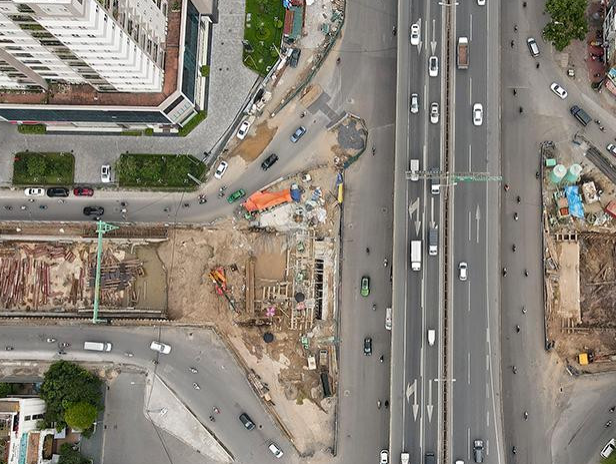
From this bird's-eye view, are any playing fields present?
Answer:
No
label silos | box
[547,165,565,184]
[564,162,582,180]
